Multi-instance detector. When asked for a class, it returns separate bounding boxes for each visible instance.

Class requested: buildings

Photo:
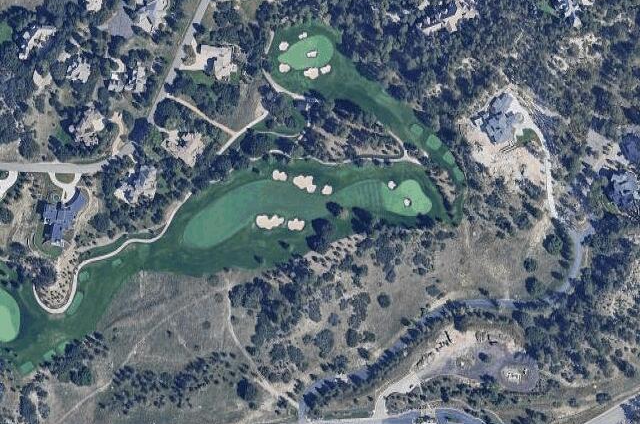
[66,59,93,86]
[558,0,593,20]
[21,23,57,59]
[86,0,103,12]
[136,0,172,34]
[108,73,123,93]
[128,63,148,92]
[608,171,640,205]
[122,164,159,203]
[421,6,463,35]
[204,41,237,78]
[72,105,106,145]
[41,191,91,240]
[485,90,521,147]
[161,128,208,169]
